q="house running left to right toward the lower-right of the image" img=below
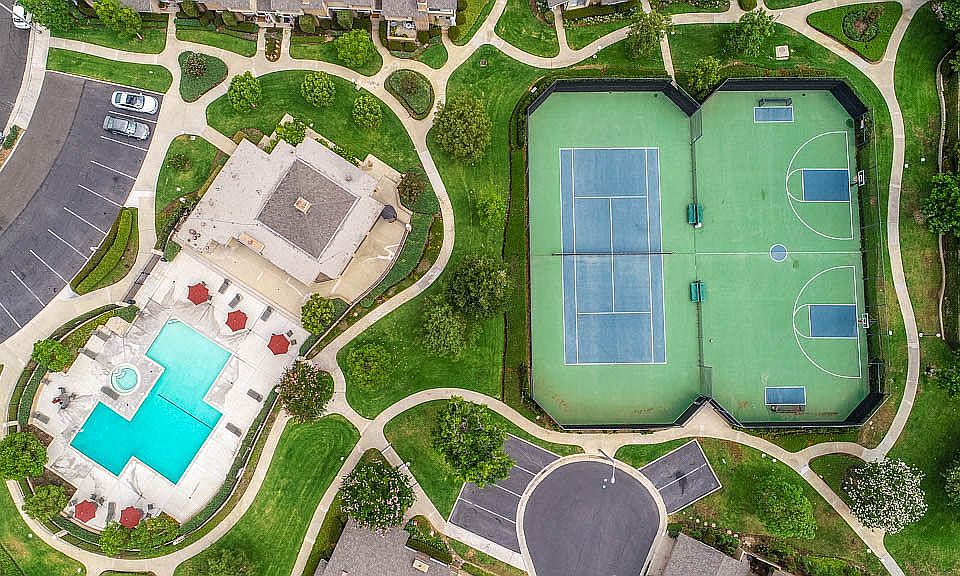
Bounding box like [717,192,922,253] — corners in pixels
[662,533,752,576]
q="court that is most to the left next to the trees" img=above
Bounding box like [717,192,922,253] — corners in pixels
[530,92,701,424]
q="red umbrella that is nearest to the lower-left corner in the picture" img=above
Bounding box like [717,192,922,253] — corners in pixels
[75,498,102,523]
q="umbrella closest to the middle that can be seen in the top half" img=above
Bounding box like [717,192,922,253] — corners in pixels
[381,205,398,220]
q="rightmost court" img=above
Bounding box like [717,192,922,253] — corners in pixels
[690,91,870,423]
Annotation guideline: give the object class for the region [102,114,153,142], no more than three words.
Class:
car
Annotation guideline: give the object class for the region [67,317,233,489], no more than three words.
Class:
swimming pool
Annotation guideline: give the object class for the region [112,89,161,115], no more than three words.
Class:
car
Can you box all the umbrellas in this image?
[75,498,102,523]
[224,309,248,332]
[267,332,291,356]
[188,281,211,305]
[381,205,398,220]
[119,506,145,531]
